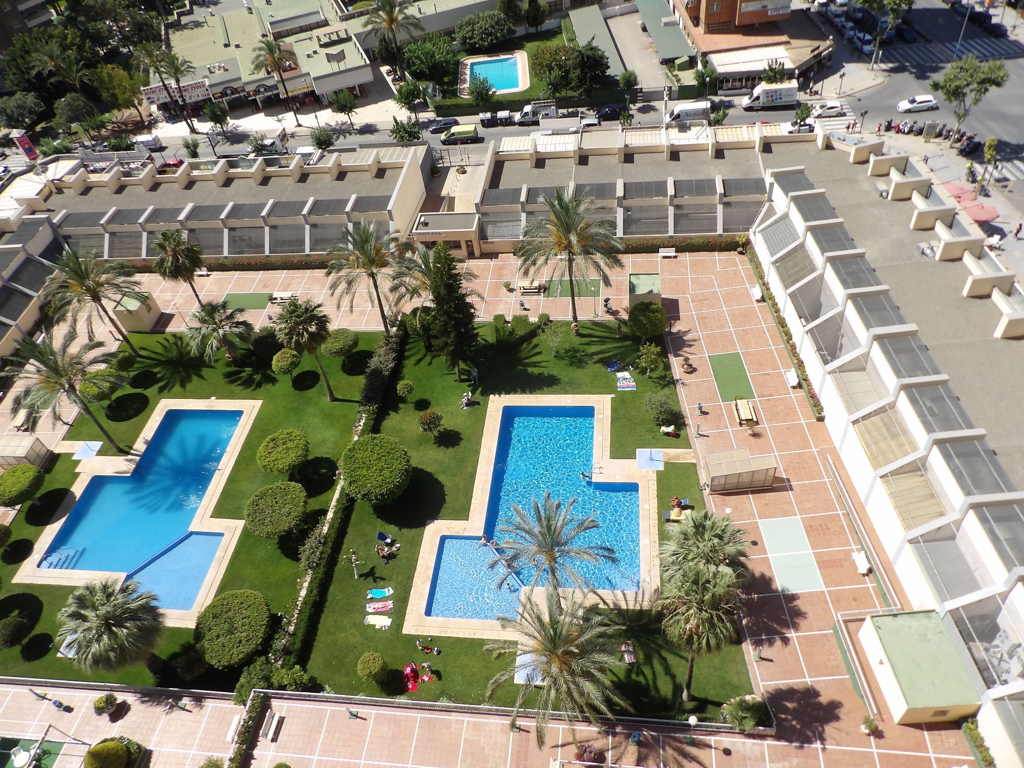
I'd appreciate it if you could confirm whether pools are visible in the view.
Yes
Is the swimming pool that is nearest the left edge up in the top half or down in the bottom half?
bottom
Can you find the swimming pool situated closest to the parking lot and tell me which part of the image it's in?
top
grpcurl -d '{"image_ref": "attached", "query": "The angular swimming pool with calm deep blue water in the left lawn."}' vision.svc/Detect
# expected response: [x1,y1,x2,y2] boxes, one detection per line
[12,399,262,626]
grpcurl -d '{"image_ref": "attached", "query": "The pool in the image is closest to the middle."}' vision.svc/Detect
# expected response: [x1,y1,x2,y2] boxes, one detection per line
[402,394,660,650]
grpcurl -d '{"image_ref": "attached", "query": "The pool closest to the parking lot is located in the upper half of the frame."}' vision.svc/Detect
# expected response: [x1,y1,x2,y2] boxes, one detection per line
[461,51,529,93]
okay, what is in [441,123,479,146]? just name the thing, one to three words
vehicle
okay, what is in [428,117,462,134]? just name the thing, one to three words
car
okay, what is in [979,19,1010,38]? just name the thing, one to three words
car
